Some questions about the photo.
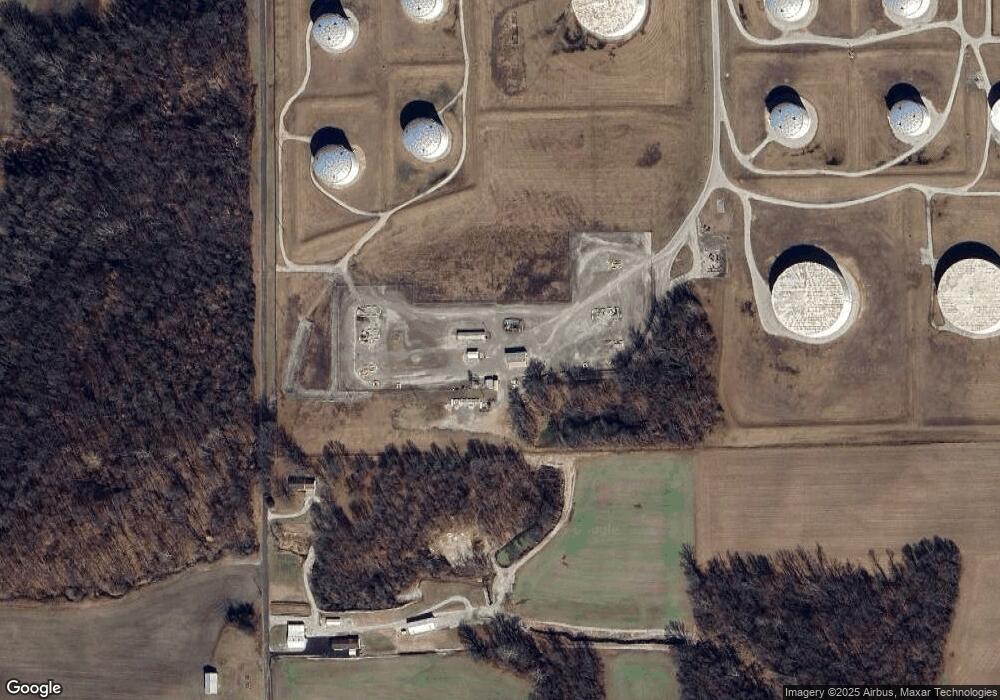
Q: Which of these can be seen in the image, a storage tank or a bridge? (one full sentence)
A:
Visible in the photo is a storage tank.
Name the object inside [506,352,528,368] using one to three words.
building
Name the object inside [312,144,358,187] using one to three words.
storage tank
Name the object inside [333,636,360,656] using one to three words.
house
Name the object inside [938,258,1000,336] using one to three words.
storage tank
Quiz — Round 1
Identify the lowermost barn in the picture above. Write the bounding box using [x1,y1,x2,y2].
[205,673,220,697]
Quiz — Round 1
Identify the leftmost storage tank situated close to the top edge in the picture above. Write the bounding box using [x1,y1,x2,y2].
[312,13,354,51]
